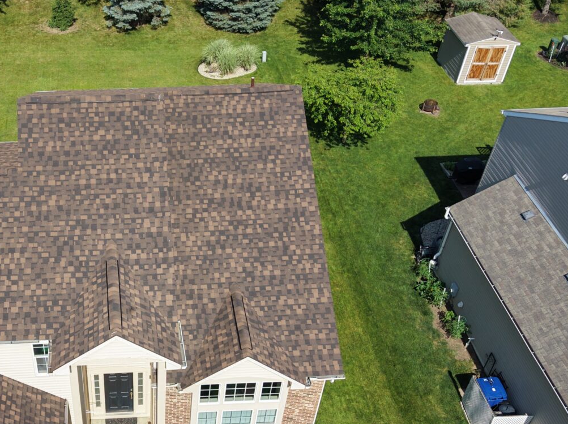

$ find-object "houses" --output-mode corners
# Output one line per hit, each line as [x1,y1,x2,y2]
[0,67,346,424]
[438,106,568,424]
